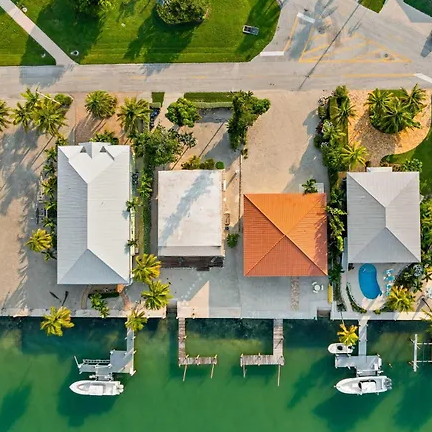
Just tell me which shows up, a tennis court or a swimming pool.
swimming pool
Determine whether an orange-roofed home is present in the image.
Yes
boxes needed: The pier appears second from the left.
[177,314,217,379]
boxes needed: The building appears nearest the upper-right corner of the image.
[345,167,420,262]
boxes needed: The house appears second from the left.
[157,170,224,271]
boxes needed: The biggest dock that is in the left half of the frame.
[74,313,137,377]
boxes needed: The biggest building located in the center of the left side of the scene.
[57,144,145,284]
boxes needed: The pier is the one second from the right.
[241,314,284,380]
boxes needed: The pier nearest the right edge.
[334,313,382,377]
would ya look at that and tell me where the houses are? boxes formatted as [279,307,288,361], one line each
[57,144,145,284]
[157,170,224,271]
[345,167,420,262]
[242,193,327,278]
